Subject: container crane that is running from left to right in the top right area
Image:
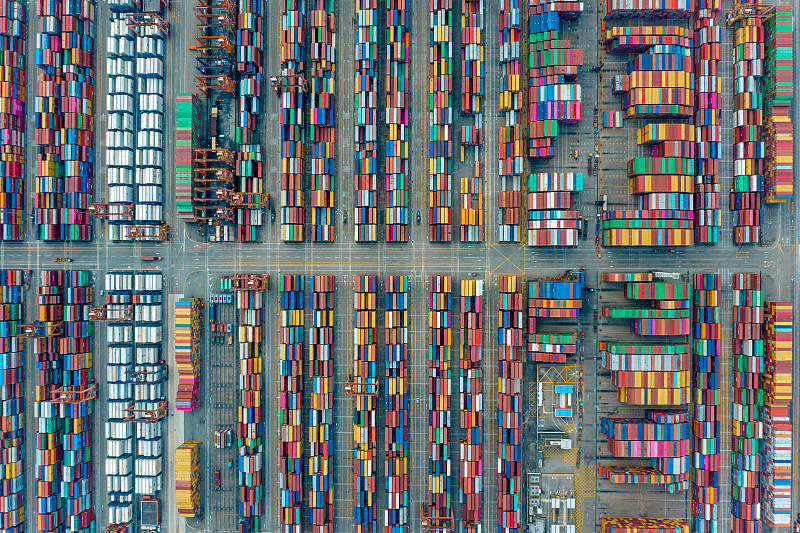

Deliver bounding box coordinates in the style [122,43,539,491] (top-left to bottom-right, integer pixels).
[727,4,777,30]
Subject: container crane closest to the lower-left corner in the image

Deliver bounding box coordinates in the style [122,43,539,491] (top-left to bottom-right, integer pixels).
[48,383,98,404]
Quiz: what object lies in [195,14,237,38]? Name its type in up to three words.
container crane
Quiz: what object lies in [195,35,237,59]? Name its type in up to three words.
container crane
